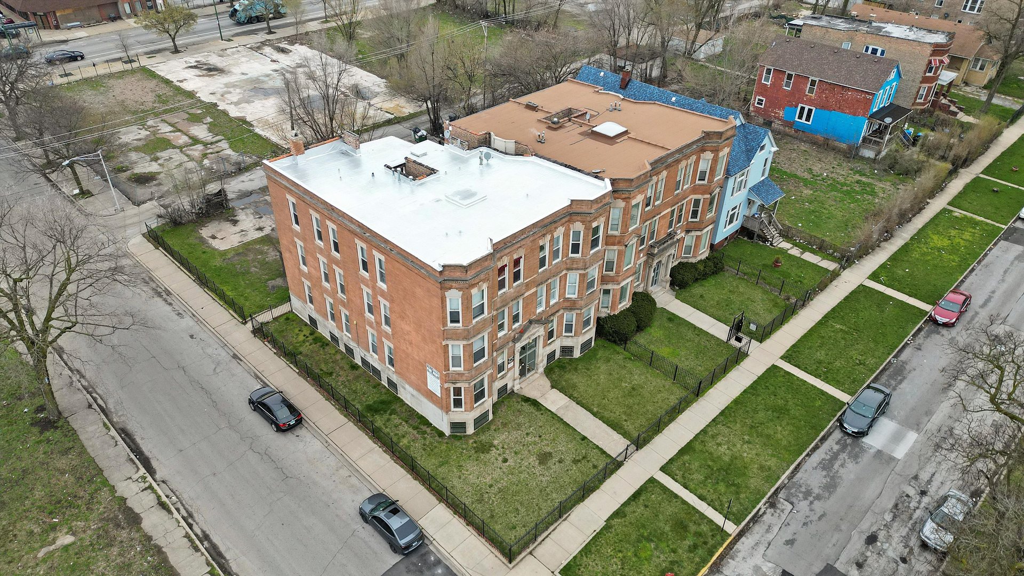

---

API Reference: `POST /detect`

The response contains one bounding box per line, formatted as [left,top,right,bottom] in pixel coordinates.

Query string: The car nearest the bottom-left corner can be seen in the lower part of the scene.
[247,387,306,438]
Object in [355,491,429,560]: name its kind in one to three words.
car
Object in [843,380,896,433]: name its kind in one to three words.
car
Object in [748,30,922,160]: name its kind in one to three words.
house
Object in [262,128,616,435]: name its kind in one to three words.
building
